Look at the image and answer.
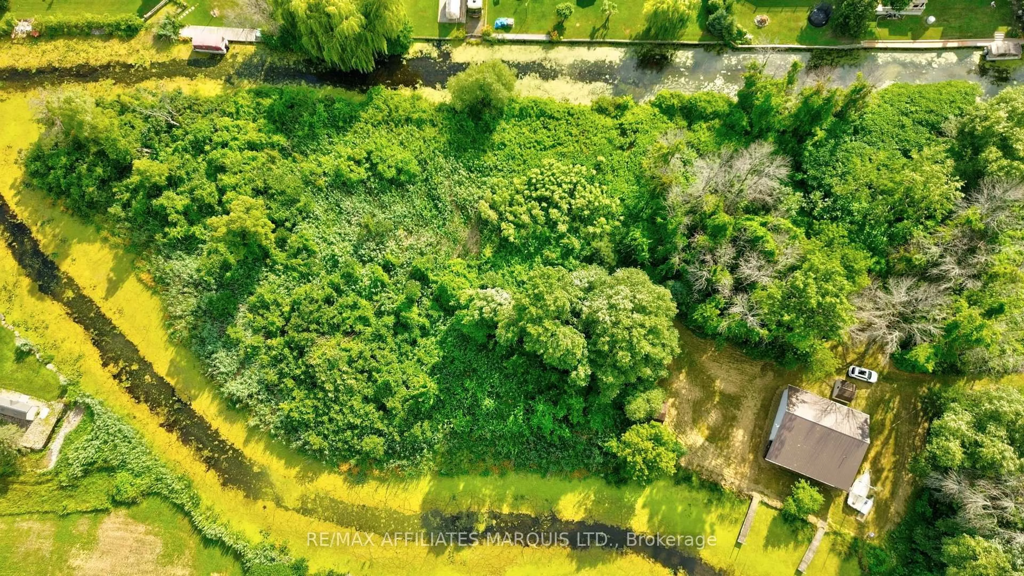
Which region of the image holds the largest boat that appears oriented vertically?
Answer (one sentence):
The largest boat that appears oriented vertically appears toward the bottom right of the photo.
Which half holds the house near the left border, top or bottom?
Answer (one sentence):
Seen from above, the house near the left border lies in the bottom half of the view.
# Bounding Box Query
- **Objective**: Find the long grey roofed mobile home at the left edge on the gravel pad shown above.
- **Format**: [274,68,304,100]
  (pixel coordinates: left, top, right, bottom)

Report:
[0,385,45,417]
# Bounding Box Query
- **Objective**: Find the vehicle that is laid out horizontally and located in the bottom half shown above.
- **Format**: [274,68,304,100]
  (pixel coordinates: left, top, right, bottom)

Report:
[849,366,881,384]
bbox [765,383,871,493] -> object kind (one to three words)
house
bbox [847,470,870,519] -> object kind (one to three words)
boat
